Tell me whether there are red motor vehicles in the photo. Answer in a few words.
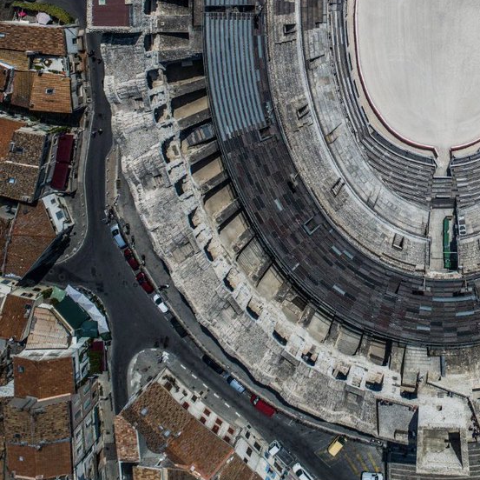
Yes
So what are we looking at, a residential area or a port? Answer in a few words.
residential area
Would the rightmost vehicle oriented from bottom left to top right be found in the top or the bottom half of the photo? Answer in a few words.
bottom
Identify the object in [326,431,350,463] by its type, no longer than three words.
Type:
vehicle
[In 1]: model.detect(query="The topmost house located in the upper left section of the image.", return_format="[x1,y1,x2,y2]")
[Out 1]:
[0,23,84,56]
